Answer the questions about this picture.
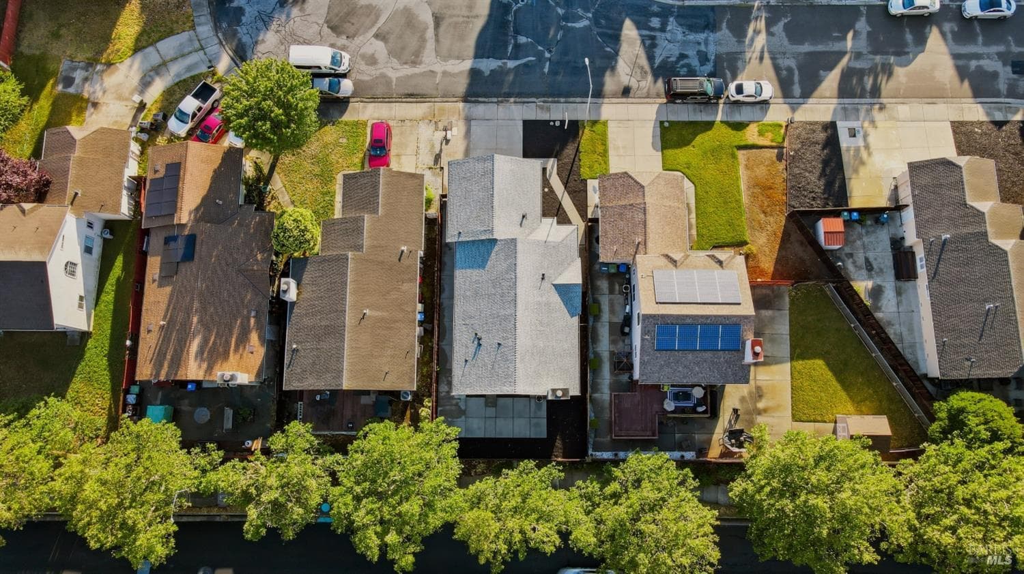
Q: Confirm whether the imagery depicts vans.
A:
Yes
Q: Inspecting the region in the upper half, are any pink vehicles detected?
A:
Yes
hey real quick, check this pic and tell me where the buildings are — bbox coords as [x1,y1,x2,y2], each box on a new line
[446,154,582,400]
[817,218,847,247]
[0,126,141,343]
[597,170,763,384]
[140,403,173,427]
[280,168,426,391]
[895,155,1024,379]
[135,141,279,383]
[826,414,893,451]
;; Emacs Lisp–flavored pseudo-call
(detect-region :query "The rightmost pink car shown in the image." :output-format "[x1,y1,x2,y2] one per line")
[368,123,390,165]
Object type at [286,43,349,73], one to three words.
van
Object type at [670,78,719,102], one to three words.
car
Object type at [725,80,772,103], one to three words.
car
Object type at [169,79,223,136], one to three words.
truck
